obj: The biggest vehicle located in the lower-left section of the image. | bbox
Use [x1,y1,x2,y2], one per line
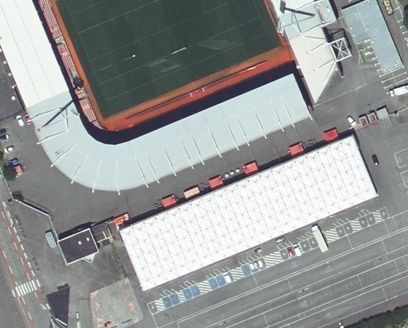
[44,230,58,249]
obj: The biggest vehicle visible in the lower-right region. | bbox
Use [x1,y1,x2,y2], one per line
[312,226,328,252]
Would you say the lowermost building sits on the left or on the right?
left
